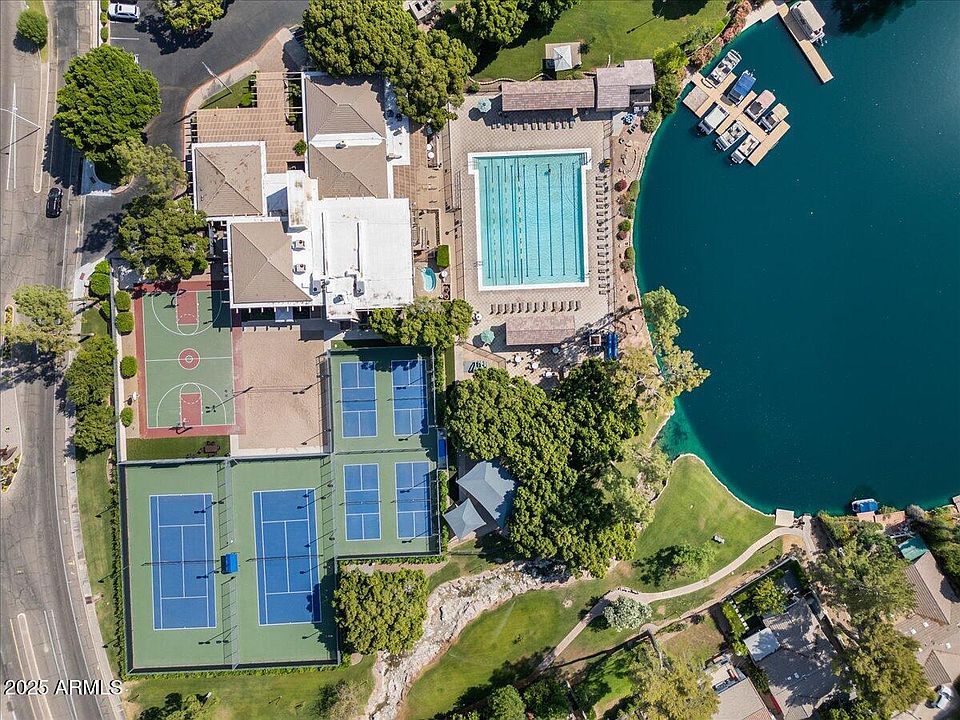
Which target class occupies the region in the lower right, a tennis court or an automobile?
automobile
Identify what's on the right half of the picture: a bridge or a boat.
boat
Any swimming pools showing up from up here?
Yes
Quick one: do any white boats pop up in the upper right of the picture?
Yes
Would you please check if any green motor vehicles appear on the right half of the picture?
No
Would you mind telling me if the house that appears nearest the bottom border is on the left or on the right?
right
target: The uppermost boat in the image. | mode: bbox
[792,0,825,42]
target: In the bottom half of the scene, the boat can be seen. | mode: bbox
[850,498,880,514]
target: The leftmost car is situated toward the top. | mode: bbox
[42,186,61,217]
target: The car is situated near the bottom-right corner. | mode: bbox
[931,690,953,713]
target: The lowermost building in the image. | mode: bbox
[716,673,775,720]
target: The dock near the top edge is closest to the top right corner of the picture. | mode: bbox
[778,4,835,83]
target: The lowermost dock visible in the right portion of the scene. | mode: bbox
[682,71,790,166]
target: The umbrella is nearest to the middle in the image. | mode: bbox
[480,328,495,343]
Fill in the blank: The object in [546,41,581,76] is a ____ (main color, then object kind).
white gazebo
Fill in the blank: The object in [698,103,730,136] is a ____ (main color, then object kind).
white boat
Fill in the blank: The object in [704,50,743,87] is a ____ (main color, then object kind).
white boat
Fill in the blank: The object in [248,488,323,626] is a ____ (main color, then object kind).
blue tennis court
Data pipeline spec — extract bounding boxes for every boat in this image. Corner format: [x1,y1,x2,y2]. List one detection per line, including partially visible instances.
[698,103,730,136]
[758,100,795,133]
[730,133,761,164]
[850,498,880,514]
[744,85,781,121]
[728,69,759,103]
[704,50,743,87]
[715,120,747,150]
[792,0,825,42]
